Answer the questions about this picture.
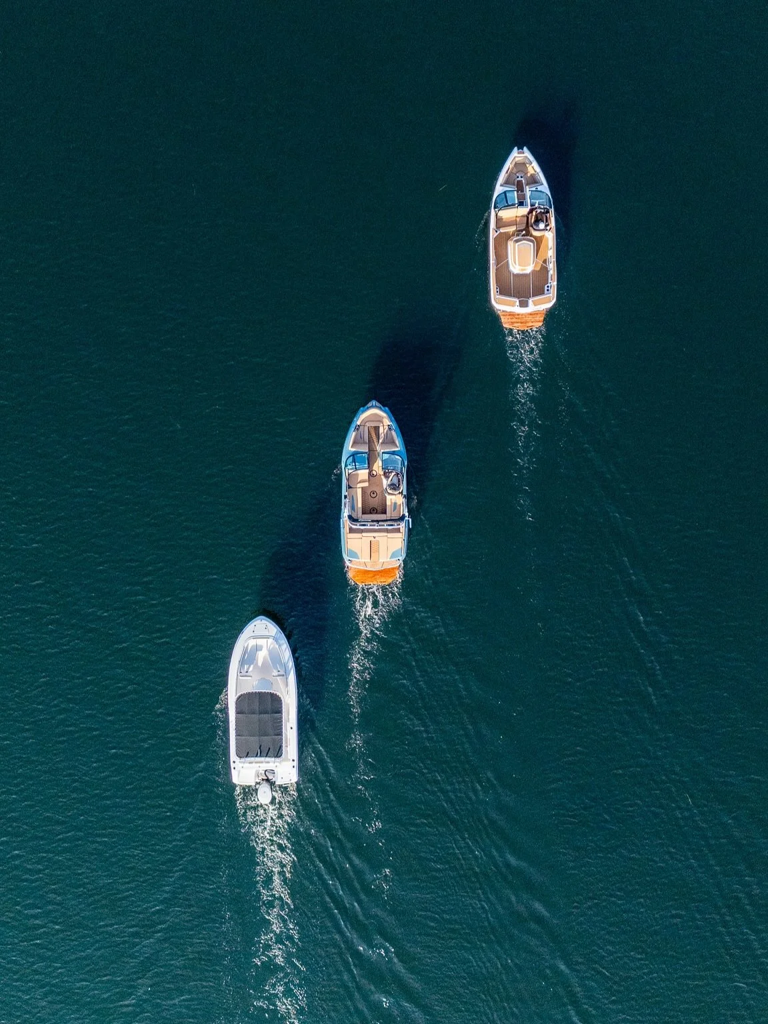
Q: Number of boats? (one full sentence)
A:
The photo contains 3 boats.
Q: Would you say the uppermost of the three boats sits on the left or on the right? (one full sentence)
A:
The uppermost of the three boats sits on the right side.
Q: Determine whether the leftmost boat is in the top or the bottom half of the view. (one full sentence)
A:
You can find the leftmost boat in the bottom half.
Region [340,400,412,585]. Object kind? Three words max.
boat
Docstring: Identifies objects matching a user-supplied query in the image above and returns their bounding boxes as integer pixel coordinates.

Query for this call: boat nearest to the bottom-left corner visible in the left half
[228,615,299,801]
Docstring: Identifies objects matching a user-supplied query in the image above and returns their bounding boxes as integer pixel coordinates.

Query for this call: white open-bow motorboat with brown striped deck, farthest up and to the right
[489,146,557,329]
